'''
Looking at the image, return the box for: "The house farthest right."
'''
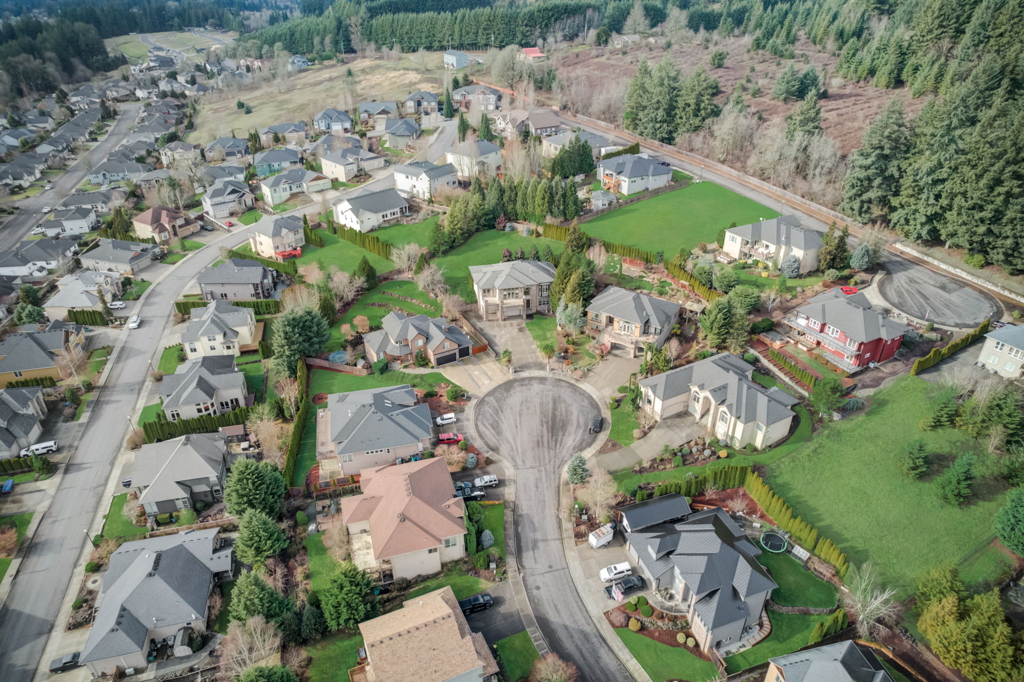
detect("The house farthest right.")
[978,318,1024,381]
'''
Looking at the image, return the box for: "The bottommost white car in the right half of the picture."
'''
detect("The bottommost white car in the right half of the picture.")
[599,559,634,581]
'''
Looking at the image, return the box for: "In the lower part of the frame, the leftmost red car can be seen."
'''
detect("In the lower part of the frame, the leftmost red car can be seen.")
[438,429,464,443]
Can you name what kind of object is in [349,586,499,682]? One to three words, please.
house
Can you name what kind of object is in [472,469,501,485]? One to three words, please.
car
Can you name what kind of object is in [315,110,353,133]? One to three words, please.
house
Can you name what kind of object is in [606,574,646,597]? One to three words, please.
truck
